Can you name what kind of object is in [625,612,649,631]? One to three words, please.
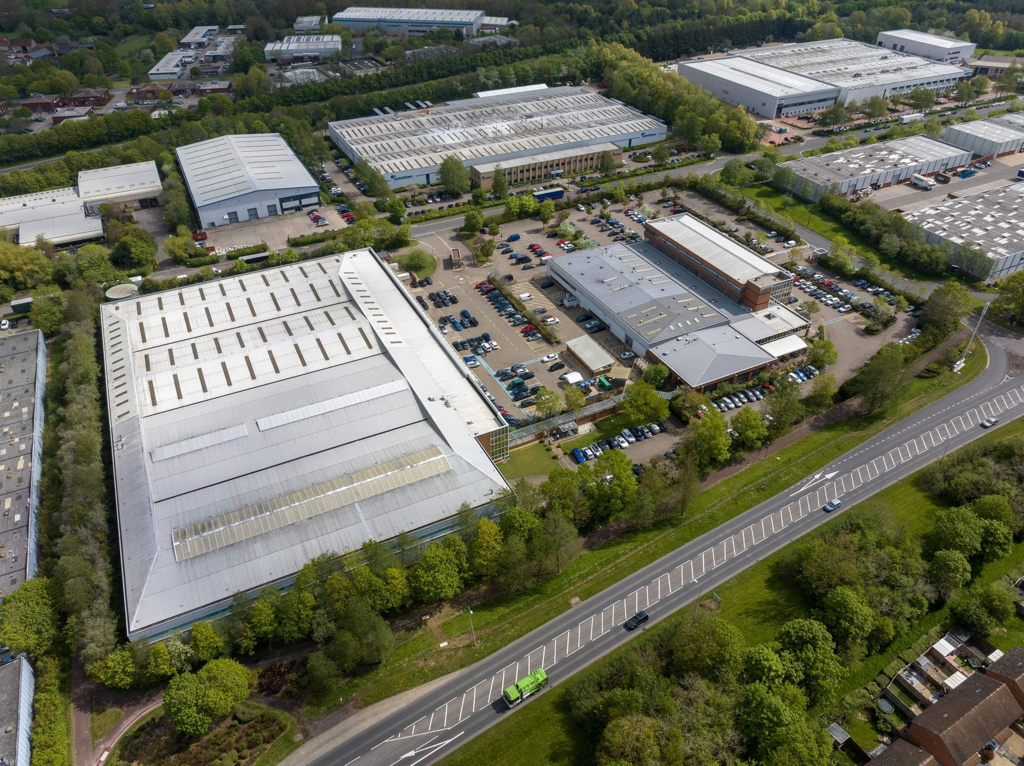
car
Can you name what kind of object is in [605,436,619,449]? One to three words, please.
vehicle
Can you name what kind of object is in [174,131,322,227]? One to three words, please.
shed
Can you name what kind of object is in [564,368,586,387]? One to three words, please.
gazebo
